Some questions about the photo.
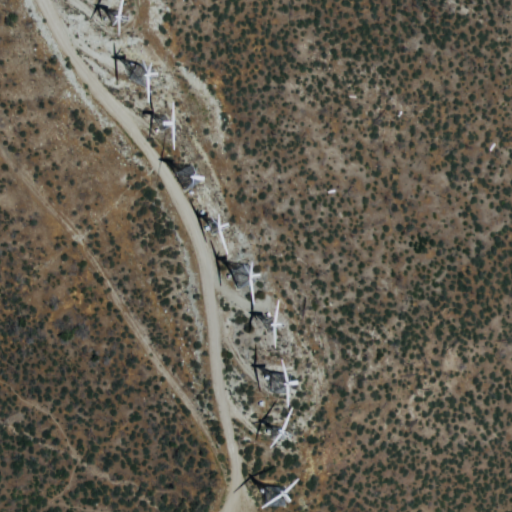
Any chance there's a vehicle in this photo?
No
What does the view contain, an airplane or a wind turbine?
wind turbine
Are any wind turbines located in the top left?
Yes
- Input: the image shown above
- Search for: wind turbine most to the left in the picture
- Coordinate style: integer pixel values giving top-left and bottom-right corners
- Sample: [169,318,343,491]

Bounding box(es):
[106,0,129,34]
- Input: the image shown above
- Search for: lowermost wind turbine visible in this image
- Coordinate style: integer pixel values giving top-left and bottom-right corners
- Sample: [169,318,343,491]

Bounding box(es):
[262,480,296,510]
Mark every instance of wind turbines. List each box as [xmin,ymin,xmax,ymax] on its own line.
[170,148,204,190]
[155,102,177,150]
[268,359,299,408]
[210,212,230,253]
[229,262,261,304]
[262,300,284,349]
[268,407,292,450]
[262,480,296,510]
[106,0,129,34]
[126,60,159,102]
